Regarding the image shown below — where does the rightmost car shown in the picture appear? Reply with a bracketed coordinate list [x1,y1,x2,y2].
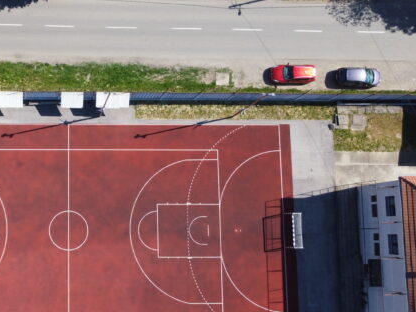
[334,65,380,86]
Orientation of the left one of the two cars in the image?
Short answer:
horizontally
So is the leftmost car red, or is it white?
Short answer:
red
